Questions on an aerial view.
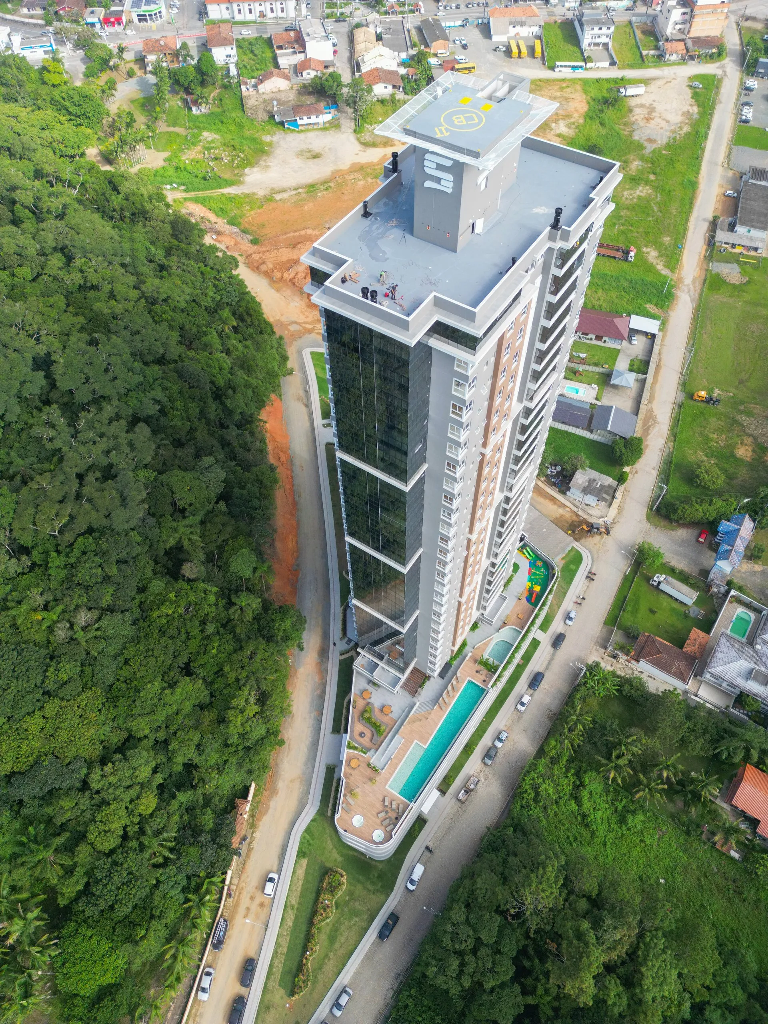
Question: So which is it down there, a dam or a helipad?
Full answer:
The one in the frame is a helipad.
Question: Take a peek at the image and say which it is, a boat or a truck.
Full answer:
The image shows a truck.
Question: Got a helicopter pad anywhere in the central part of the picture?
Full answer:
No, I can find no helicopter pad in the central part of the picture.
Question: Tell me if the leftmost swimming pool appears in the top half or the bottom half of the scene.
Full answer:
The bottom half of the photo is where the leftmost swimming pool is.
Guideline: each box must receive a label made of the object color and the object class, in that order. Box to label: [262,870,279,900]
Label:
white car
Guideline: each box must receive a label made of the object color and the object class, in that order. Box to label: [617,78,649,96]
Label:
white vehicle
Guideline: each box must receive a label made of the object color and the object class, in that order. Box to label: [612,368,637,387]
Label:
white gazebo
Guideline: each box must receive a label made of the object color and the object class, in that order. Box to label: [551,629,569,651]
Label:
gray car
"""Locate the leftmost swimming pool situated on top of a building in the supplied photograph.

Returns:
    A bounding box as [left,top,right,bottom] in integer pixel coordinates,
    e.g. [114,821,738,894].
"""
[386,680,489,803]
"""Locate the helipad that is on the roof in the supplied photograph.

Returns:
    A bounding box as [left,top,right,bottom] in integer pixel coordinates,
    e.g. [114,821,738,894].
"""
[402,82,534,156]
